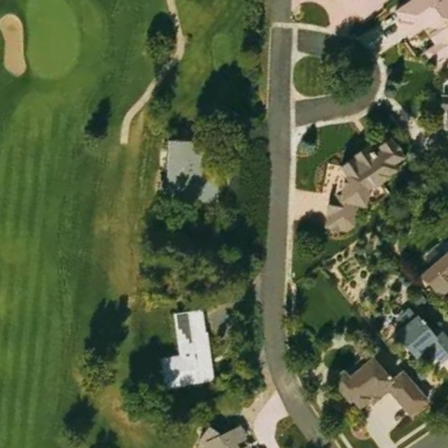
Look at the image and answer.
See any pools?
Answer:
No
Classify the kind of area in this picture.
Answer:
golf course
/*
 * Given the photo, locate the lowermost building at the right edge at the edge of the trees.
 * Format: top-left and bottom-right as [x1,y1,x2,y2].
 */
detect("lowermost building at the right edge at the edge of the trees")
[340,358,429,416]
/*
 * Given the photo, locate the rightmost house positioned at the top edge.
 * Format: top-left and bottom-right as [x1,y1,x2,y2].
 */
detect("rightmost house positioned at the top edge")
[397,0,448,68]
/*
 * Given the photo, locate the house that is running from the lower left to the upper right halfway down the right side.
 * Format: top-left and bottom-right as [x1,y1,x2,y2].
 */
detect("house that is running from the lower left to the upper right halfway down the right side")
[325,140,407,234]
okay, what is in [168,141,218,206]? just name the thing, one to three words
house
